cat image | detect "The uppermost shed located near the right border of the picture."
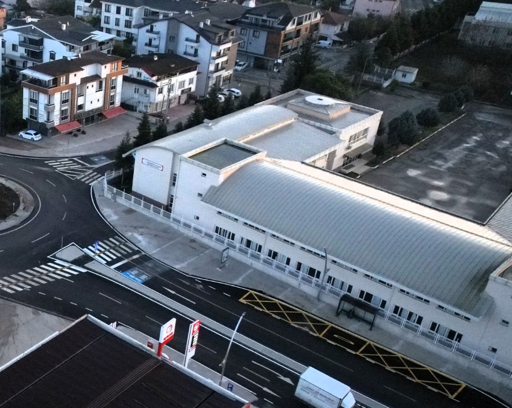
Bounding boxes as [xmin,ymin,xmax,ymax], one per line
[460,0,512,43]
